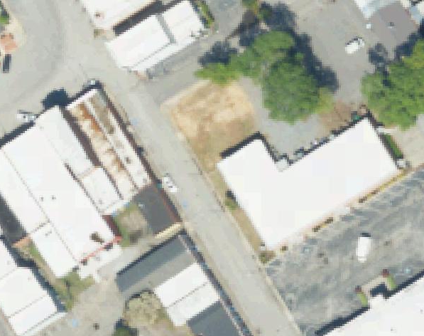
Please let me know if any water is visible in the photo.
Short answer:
No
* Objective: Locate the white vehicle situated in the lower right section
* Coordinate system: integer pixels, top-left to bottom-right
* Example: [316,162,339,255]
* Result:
[357,235,370,261]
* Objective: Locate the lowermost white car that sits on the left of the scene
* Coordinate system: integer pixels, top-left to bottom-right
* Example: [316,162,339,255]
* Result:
[162,175,175,192]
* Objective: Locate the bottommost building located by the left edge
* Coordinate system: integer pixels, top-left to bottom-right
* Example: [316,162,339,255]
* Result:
[9,296,62,336]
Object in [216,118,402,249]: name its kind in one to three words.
building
